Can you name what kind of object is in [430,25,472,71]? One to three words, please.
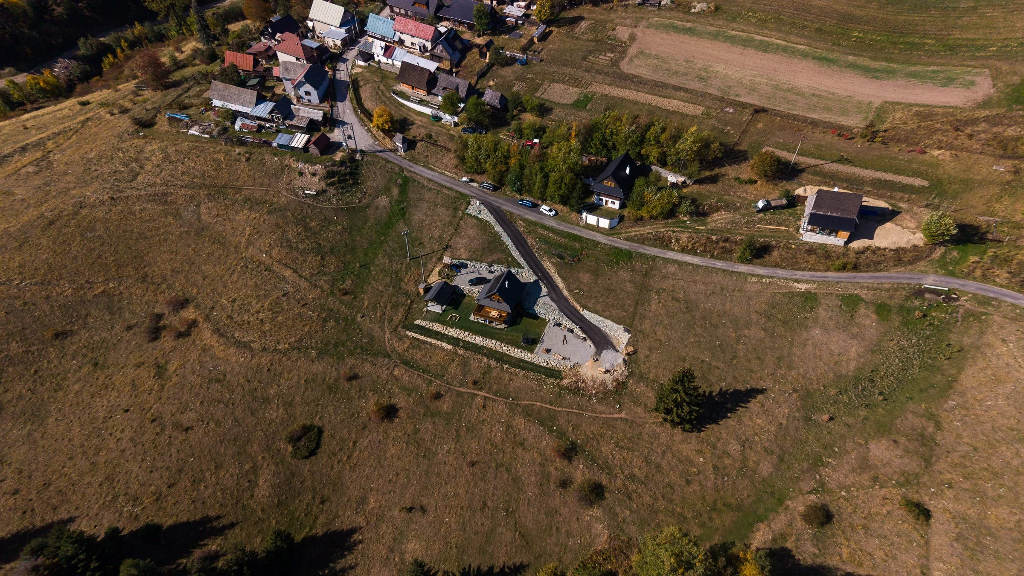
barn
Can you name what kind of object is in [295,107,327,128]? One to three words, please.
shed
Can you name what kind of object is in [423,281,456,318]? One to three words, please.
building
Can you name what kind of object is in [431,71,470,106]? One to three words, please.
house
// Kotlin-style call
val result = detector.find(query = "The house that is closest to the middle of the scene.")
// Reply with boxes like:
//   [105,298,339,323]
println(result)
[475,269,524,332]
